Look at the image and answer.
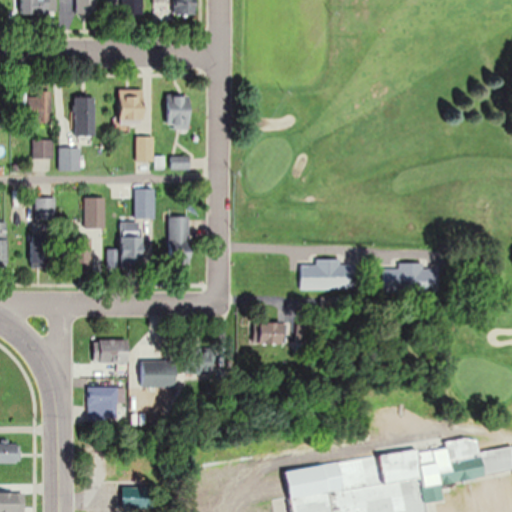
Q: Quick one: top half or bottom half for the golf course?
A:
top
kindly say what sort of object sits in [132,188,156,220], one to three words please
building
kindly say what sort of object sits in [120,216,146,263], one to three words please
house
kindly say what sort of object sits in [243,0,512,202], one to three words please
golf course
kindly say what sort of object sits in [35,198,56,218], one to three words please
building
